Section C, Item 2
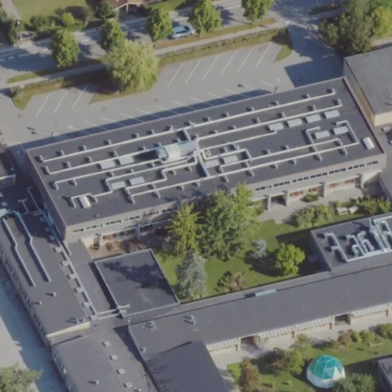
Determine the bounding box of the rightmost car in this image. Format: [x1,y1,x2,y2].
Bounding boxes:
[169,22,195,37]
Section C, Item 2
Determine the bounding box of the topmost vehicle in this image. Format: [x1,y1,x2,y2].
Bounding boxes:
[128,3,142,18]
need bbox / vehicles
[128,3,142,18]
[169,22,195,37]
